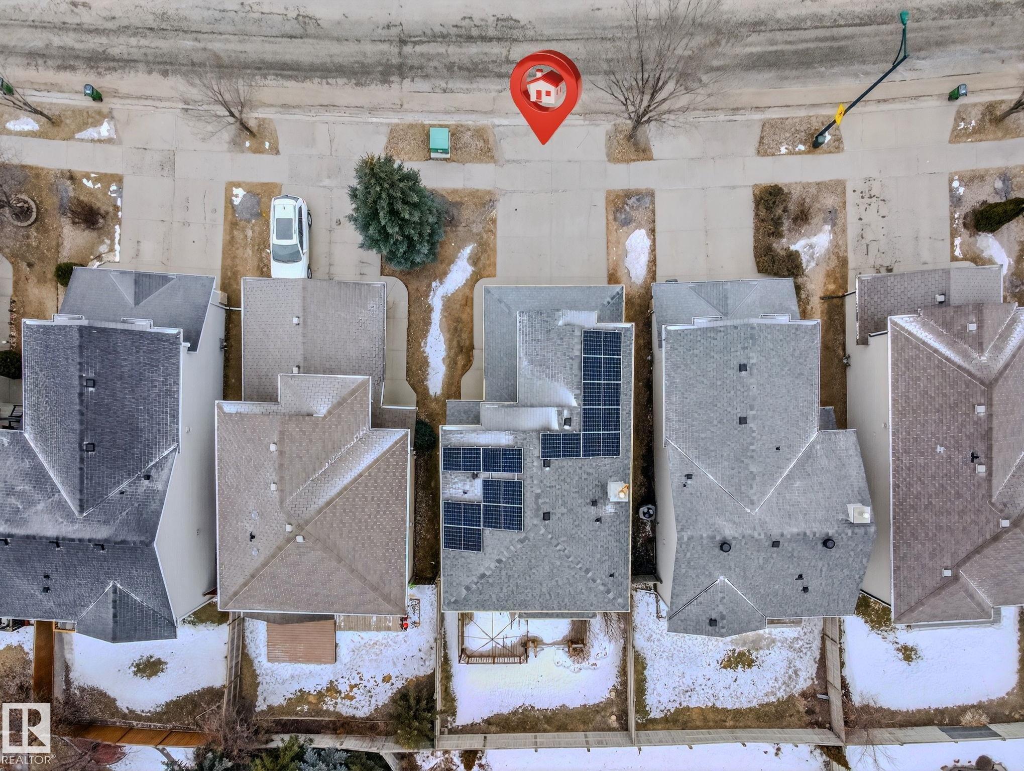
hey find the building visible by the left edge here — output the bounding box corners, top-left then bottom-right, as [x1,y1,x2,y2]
[0,266,241,644]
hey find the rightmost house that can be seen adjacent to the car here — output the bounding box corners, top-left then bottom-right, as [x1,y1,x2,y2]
[215,277,421,625]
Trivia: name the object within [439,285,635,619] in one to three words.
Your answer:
house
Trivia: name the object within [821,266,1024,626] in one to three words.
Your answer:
house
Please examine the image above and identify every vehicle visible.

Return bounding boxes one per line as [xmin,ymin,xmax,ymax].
[266,197,310,279]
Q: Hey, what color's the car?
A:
white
